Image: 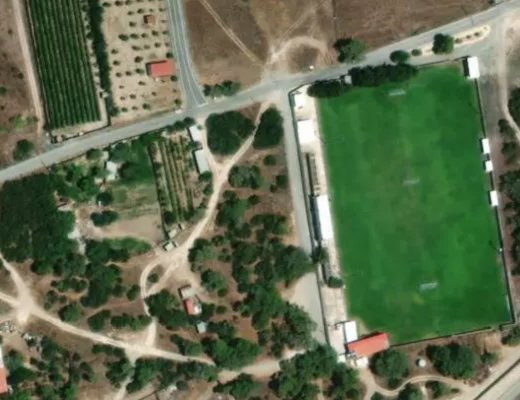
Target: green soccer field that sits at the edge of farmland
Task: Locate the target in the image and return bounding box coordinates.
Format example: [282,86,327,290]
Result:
[309,59,513,345]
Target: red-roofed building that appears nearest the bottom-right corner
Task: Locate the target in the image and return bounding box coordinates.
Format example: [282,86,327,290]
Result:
[348,333,389,357]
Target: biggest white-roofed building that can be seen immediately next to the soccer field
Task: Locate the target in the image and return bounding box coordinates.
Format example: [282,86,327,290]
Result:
[298,120,314,145]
